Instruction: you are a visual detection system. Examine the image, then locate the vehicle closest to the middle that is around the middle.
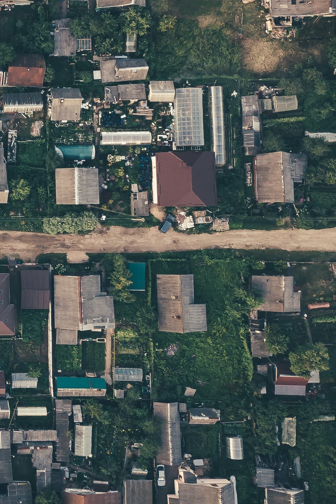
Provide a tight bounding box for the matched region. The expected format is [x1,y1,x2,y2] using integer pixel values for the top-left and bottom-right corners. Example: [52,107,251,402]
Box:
[158,214,174,234]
